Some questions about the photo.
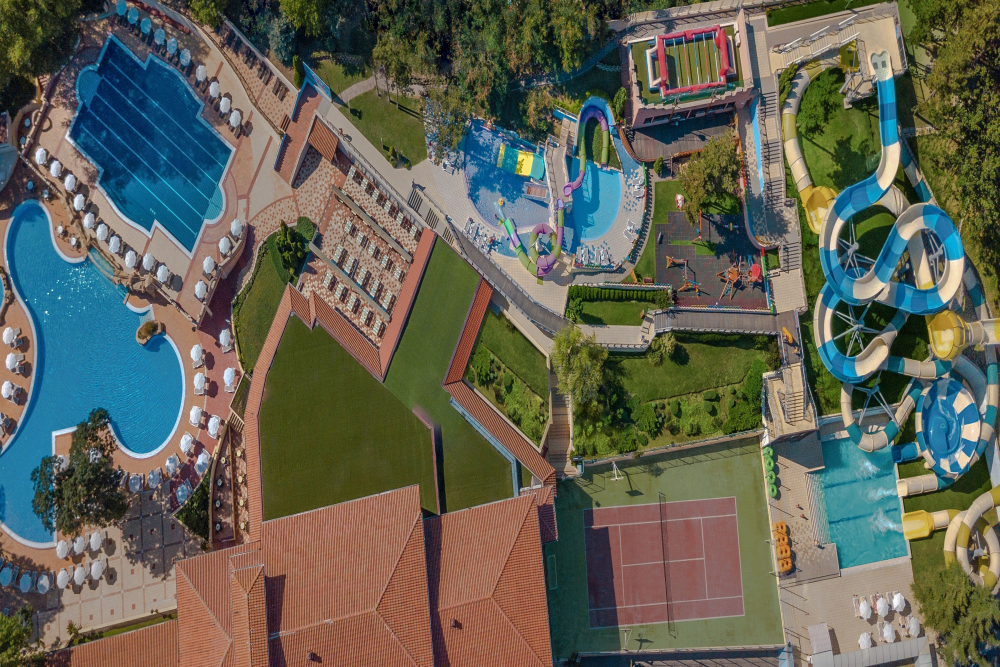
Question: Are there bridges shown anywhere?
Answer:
Yes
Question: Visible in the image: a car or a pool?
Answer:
pool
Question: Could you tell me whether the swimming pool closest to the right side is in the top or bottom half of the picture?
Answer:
bottom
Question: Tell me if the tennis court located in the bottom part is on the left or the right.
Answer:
right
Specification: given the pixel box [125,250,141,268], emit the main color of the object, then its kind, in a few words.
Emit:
white umbrella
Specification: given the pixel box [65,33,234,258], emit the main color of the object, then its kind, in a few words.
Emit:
blue swimming pool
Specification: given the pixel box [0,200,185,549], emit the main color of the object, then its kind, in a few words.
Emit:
blue swimming pool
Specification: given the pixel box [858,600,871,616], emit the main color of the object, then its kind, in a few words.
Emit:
white umbrella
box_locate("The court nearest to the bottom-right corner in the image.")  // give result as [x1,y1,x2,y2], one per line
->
[553,441,782,656]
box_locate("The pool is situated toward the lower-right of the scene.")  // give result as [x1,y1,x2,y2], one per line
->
[818,434,911,569]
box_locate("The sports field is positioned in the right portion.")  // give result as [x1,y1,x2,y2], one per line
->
[643,24,746,104]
